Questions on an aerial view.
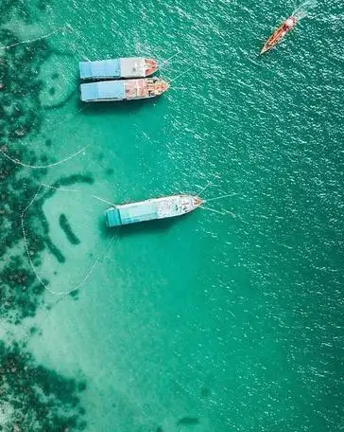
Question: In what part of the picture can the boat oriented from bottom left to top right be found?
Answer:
top right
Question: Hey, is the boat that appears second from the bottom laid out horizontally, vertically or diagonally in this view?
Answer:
horizontally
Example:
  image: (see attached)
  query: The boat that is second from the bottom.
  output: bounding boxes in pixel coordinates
[55,70,190,125]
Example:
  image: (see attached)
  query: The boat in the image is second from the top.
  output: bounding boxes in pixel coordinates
[79,53,179,79]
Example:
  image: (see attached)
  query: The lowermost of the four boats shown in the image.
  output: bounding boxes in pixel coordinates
[92,184,238,273]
